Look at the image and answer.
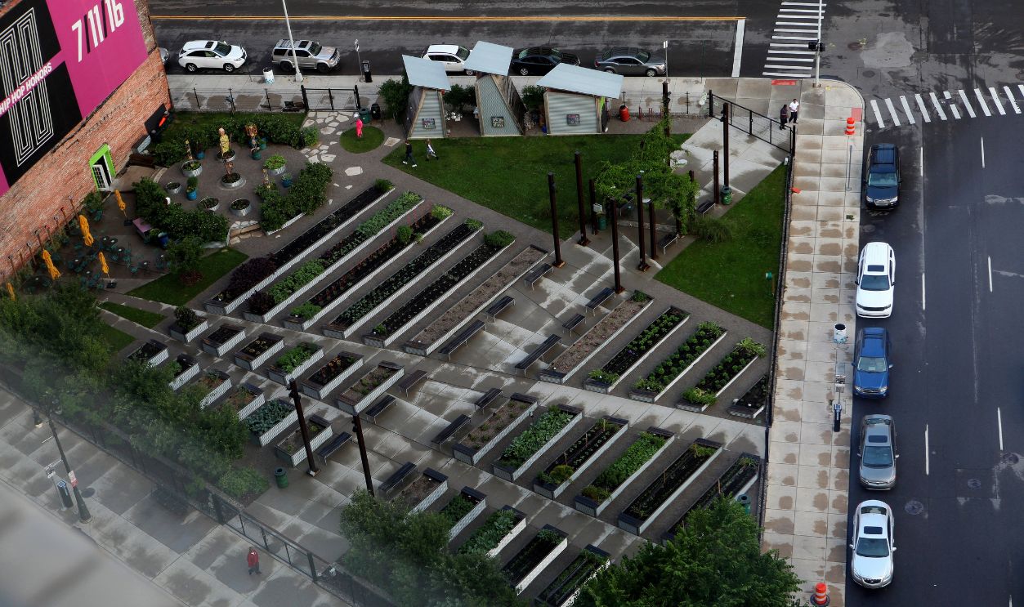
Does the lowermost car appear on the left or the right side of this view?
right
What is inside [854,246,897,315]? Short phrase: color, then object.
white car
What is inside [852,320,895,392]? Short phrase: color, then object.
blue car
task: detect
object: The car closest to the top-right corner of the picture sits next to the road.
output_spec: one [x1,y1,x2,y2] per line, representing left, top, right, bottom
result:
[864,144,903,206]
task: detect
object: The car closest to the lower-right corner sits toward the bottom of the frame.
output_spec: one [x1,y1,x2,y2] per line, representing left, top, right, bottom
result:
[849,497,898,584]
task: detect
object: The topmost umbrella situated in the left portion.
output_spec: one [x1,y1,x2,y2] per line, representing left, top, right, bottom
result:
[117,190,130,225]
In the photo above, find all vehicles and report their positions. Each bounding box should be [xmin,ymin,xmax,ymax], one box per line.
[864,144,903,206]
[849,497,898,584]
[857,414,902,487]
[595,42,668,73]
[852,320,895,392]
[176,37,247,71]
[158,47,170,65]
[510,42,580,72]
[418,37,475,73]
[854,246,897,315]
